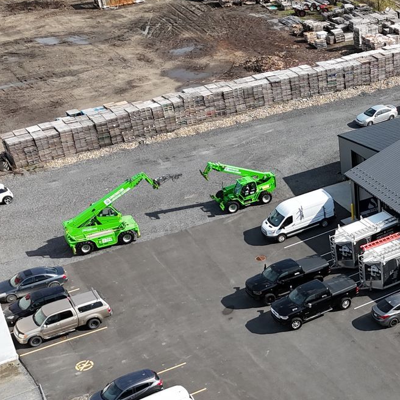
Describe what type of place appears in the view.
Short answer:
parking lot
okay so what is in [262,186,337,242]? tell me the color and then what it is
white van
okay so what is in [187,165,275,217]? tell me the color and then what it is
green work vehicle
